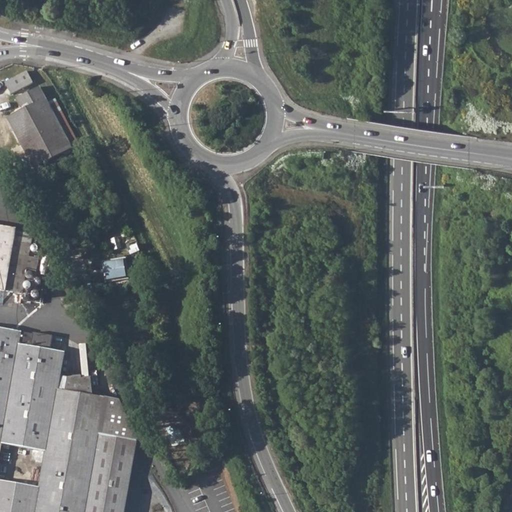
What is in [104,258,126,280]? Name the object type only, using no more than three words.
shed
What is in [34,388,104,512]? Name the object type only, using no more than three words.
building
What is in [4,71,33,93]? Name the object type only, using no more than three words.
house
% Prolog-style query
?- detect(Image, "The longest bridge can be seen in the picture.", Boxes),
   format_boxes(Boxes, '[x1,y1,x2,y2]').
[347,118,478,171]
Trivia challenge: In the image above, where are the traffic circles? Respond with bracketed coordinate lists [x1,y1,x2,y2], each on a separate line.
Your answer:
[170,58,286,174]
